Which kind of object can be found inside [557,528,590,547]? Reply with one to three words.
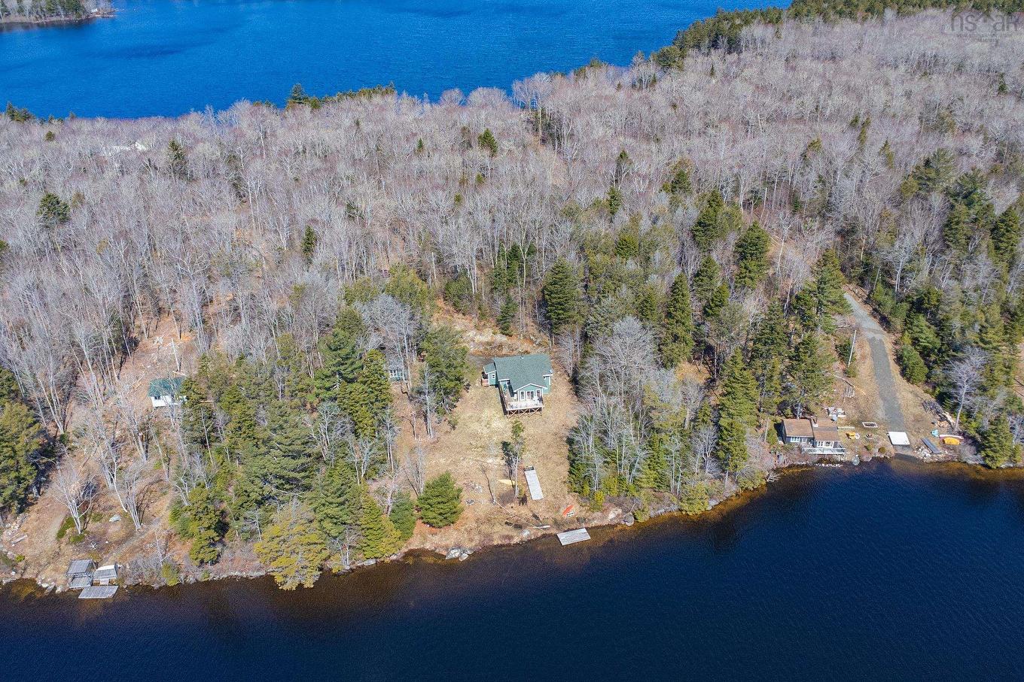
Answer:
pier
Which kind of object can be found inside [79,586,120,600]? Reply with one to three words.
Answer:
pier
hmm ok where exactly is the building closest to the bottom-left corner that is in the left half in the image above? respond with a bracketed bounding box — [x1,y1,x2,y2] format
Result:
[62,555,101,590]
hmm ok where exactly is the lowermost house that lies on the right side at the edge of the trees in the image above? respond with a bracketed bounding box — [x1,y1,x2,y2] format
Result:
[779,418,846,466]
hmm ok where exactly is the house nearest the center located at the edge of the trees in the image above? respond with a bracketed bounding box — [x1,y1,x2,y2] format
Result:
[478,349,554,419]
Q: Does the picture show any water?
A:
Yes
